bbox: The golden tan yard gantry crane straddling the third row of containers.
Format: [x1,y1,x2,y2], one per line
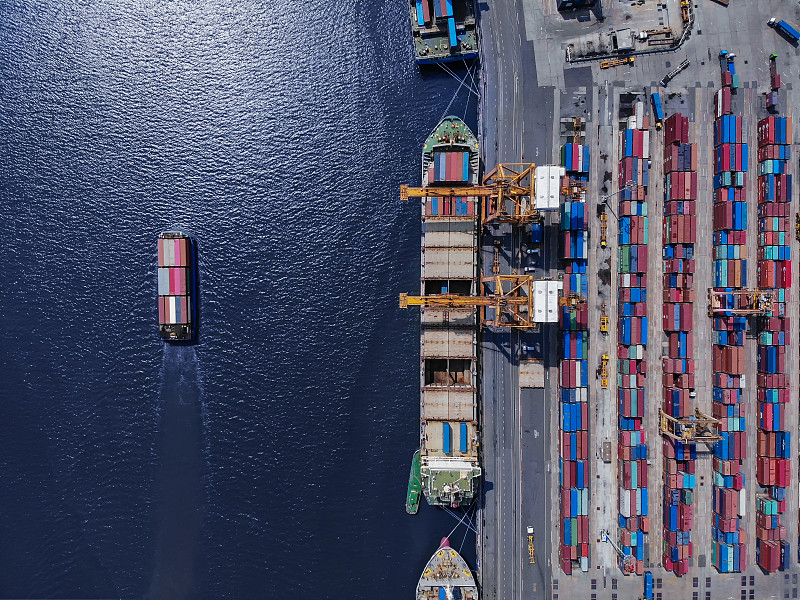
[662,409,726,442]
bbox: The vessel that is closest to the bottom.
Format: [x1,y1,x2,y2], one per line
[416,535,479,600]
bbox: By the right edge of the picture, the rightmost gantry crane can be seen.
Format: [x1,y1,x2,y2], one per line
[710,288,777,316]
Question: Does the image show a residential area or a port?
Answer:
port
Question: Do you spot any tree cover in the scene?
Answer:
No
